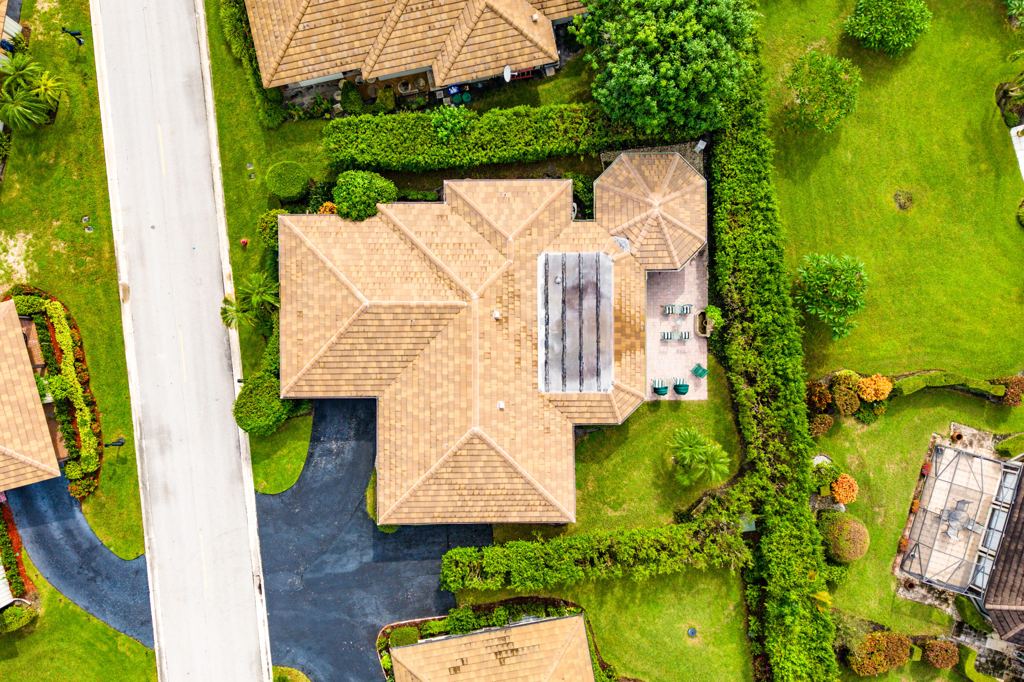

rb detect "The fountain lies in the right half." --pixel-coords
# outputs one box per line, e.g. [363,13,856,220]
[692,309,713,337]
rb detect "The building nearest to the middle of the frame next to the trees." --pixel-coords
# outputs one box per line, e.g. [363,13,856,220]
[277,151,709,527]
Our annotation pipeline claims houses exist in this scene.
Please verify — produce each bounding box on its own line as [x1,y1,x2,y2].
[964,435,1024,650]
[388,611,597,682]
[277,151,709,527]
[245,0,603,92]
[0,0,22,44]
[0,299,62,492]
